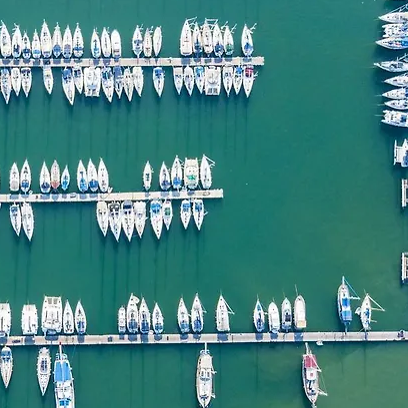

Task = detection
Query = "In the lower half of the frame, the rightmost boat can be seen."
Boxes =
[360,294,388,336]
